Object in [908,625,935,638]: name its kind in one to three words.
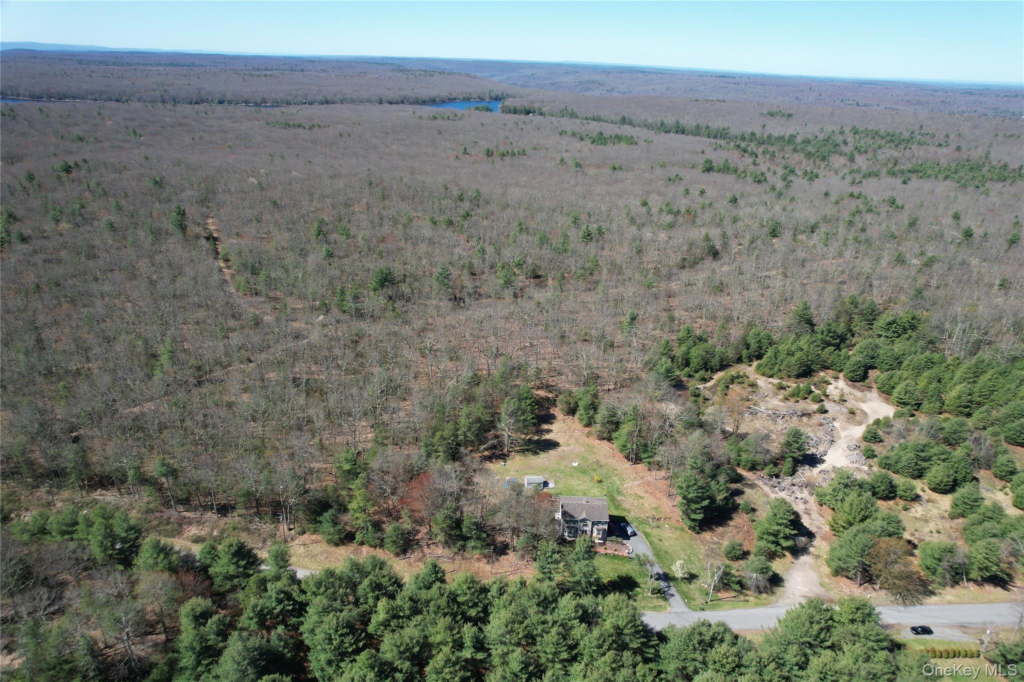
vehicle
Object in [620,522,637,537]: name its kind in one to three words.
car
